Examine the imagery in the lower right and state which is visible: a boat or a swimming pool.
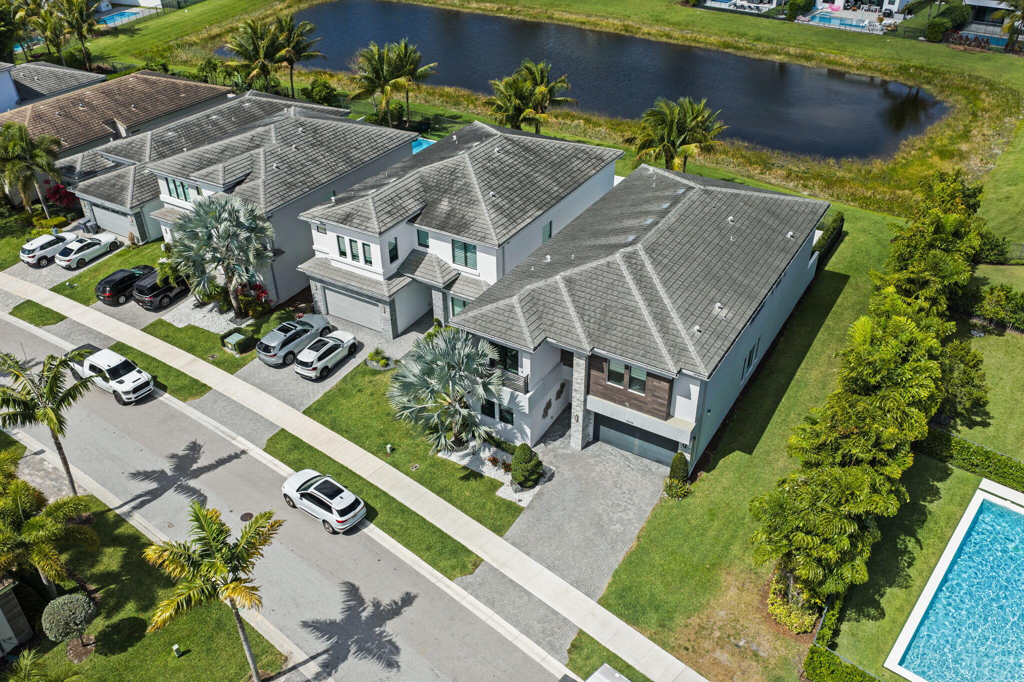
swimming pool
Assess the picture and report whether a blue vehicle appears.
No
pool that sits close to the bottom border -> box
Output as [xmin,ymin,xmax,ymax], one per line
[884,488,1024,682]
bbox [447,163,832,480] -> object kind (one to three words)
house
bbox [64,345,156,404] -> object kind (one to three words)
truck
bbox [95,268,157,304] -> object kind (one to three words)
car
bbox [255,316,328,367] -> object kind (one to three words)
car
